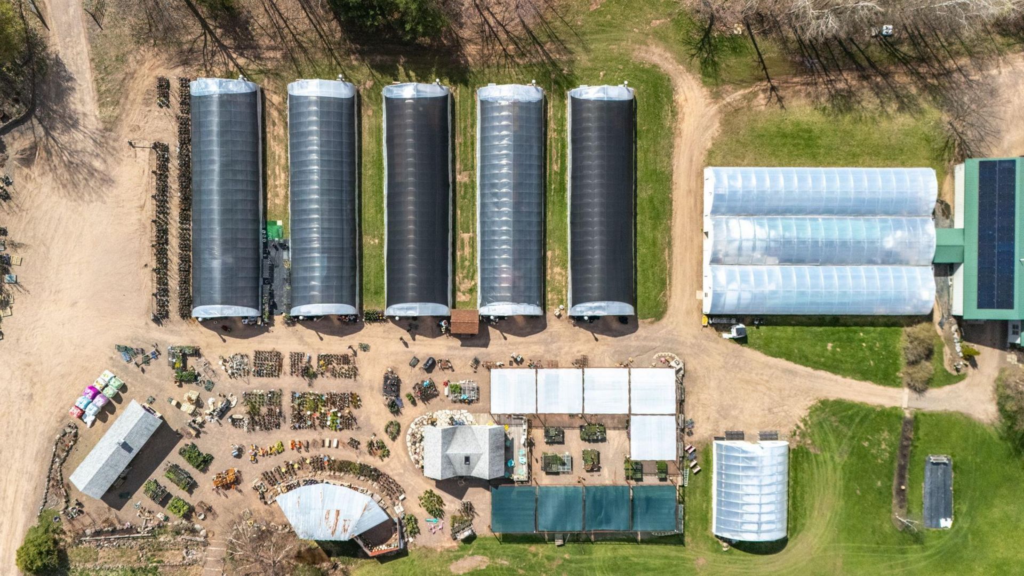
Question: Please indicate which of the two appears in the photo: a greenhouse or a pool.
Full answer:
This aerial view contains a greenhouse.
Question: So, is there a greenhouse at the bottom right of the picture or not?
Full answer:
Yes, a greenhouse can be seen at the bottom right of the picture.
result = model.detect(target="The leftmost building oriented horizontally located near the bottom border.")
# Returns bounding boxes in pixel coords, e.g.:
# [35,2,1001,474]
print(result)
[274,483,396,556]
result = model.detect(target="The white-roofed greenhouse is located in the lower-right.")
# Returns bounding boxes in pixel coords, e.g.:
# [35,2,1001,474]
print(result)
[712,440,790,543]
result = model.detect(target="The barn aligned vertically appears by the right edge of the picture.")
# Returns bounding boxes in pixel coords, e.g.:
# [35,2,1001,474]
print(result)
[943,154,1024,347]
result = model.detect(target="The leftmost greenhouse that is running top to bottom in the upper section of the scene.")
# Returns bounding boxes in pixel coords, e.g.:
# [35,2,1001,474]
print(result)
[189,76,265,320]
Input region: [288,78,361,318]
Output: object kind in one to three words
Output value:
greenhouse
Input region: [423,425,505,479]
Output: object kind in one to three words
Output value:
building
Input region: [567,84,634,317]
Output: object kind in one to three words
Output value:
greenhouse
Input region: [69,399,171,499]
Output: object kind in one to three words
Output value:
shed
